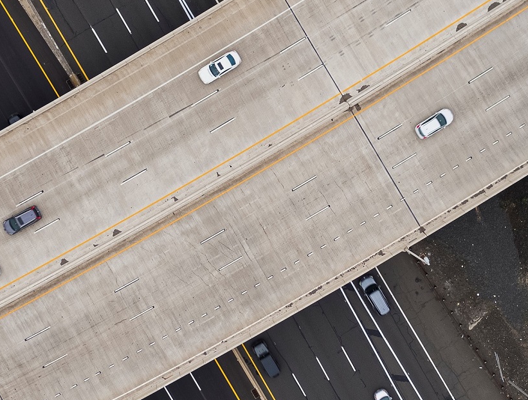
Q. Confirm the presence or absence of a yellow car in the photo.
No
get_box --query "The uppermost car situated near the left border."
[5,108,24,125]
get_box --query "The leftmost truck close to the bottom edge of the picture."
[252,336,283,381]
